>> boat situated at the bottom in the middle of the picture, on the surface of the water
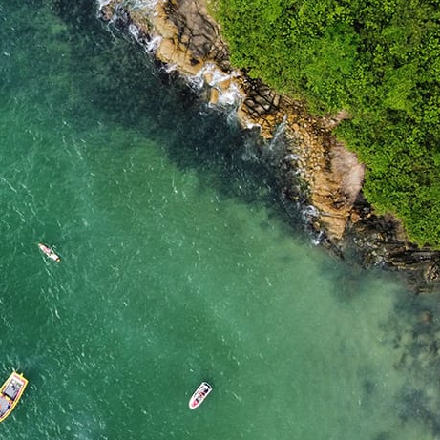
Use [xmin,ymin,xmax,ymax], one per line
[190,380,214,410]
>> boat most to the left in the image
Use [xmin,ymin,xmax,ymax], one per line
[0,370,28,423]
